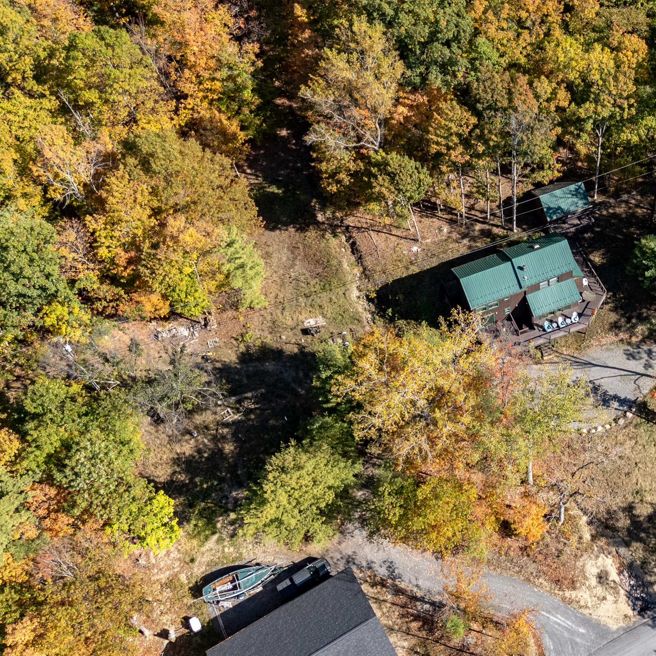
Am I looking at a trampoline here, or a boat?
boat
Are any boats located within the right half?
No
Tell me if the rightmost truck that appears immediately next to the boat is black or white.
black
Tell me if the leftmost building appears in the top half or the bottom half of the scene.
bottom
